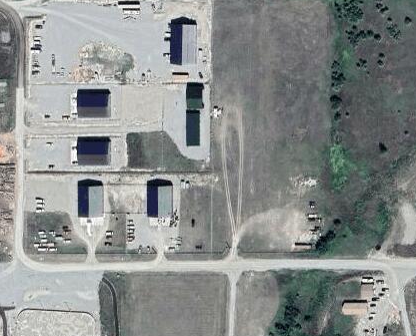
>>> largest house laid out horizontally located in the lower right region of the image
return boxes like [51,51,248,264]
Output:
[341,302,367,315]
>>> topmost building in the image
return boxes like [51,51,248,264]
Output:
[170,20,197,64]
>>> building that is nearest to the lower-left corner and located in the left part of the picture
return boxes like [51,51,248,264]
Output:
[77,185,104,217]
